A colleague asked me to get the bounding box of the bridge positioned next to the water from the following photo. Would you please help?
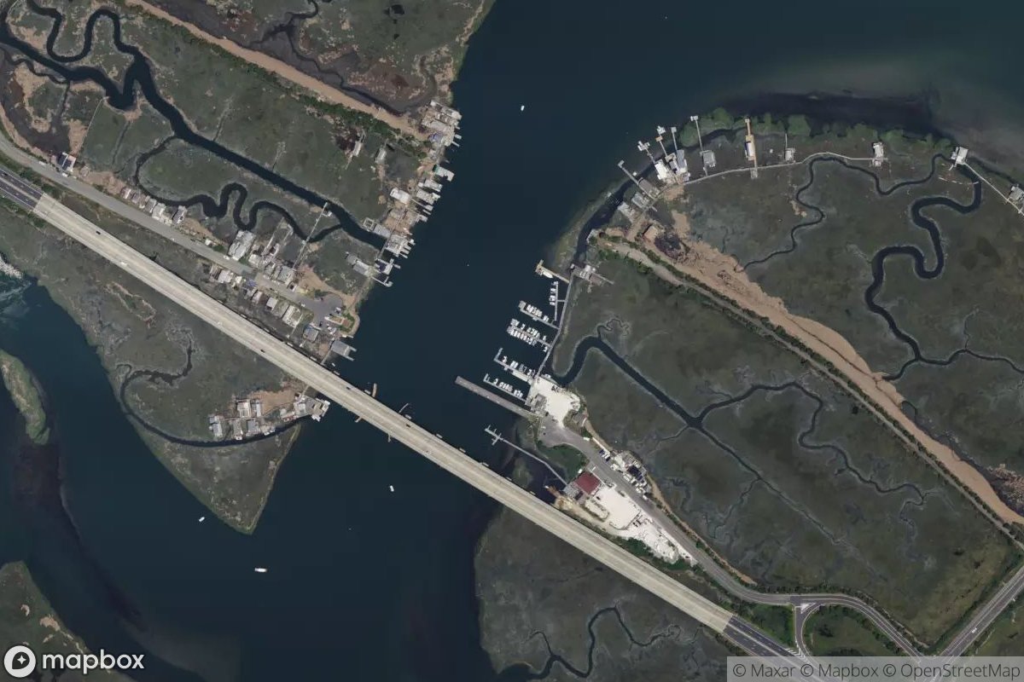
[33,193,733,633]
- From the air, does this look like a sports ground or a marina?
marina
